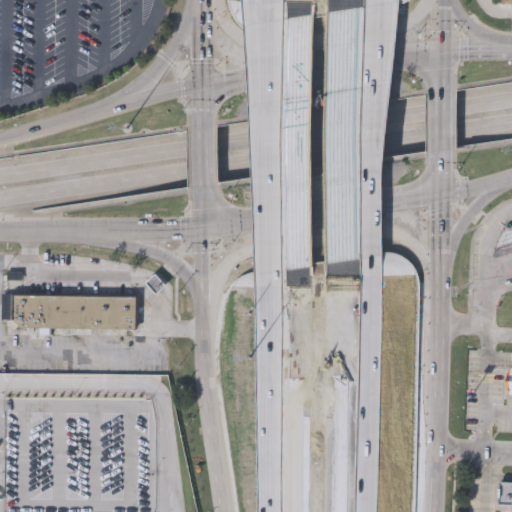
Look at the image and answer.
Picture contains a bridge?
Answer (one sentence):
Yes, the image includes a bridge.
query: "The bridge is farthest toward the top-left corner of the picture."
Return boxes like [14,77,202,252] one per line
[188,129,219,186]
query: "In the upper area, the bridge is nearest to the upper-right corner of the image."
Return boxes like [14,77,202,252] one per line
[424,93,458,151]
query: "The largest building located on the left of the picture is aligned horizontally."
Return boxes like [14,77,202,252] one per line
[2,293,136,338]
